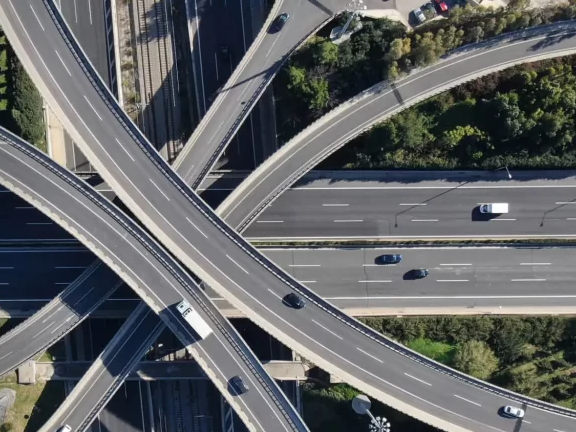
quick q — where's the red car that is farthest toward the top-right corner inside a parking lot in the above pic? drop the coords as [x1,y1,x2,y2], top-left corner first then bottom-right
[436,0,449,14]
